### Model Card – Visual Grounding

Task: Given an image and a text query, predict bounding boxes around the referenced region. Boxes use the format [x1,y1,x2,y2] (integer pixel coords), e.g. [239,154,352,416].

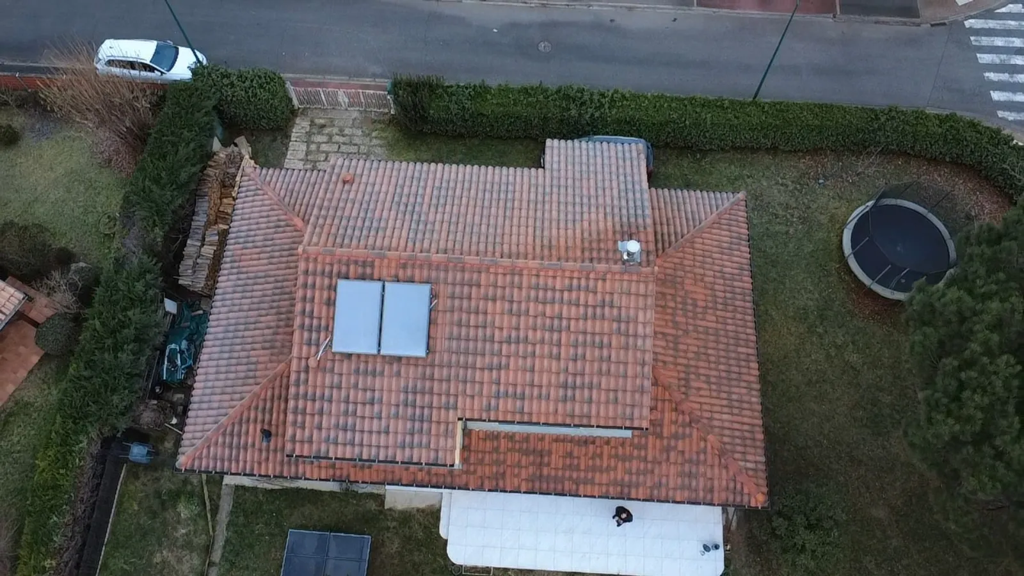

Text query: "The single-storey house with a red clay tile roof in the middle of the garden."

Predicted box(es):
[170,136,773,526]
